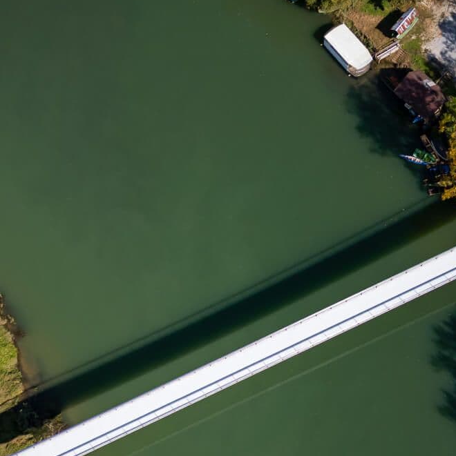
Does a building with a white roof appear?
No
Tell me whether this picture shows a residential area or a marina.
marina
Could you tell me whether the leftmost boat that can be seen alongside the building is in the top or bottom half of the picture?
top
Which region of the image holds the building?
top right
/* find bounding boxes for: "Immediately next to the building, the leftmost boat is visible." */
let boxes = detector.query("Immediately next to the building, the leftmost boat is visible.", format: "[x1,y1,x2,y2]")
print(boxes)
[323,22,372,80]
